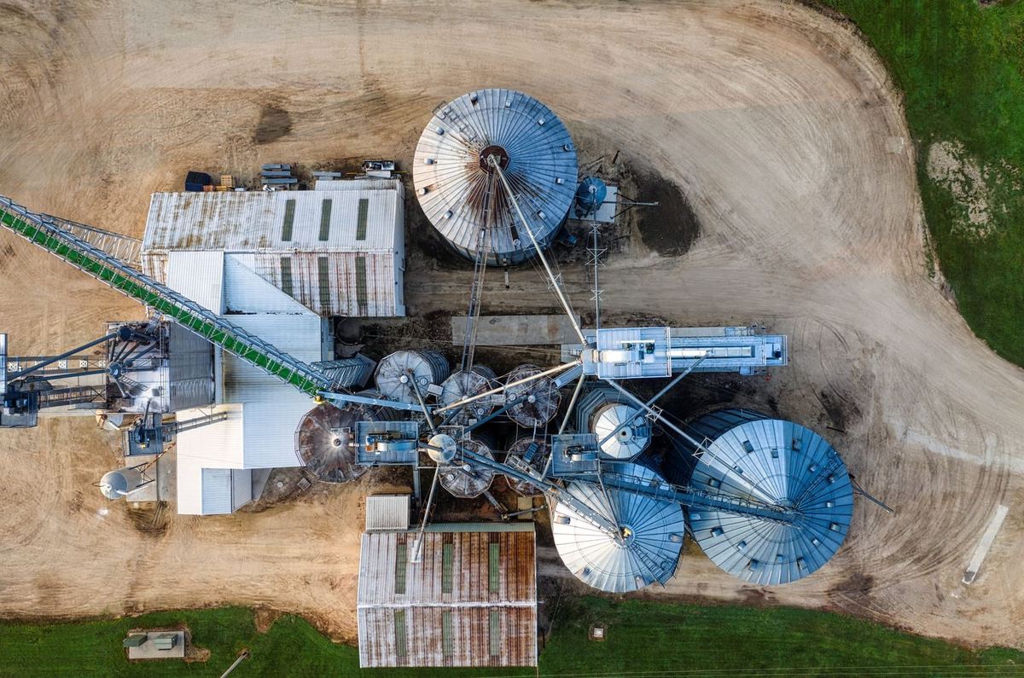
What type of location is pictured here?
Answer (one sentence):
The picture captures an industrial area.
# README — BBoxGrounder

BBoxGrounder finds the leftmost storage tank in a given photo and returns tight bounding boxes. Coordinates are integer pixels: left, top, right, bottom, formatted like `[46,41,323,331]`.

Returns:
[93,461,160,498]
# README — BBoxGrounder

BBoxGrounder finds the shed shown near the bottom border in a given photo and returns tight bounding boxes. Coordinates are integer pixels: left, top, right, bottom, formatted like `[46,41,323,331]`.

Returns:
[356,520,544,668]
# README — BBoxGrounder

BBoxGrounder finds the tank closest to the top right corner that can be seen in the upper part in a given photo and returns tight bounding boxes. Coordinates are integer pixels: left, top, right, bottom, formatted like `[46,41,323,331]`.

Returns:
[572,178,606,217]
